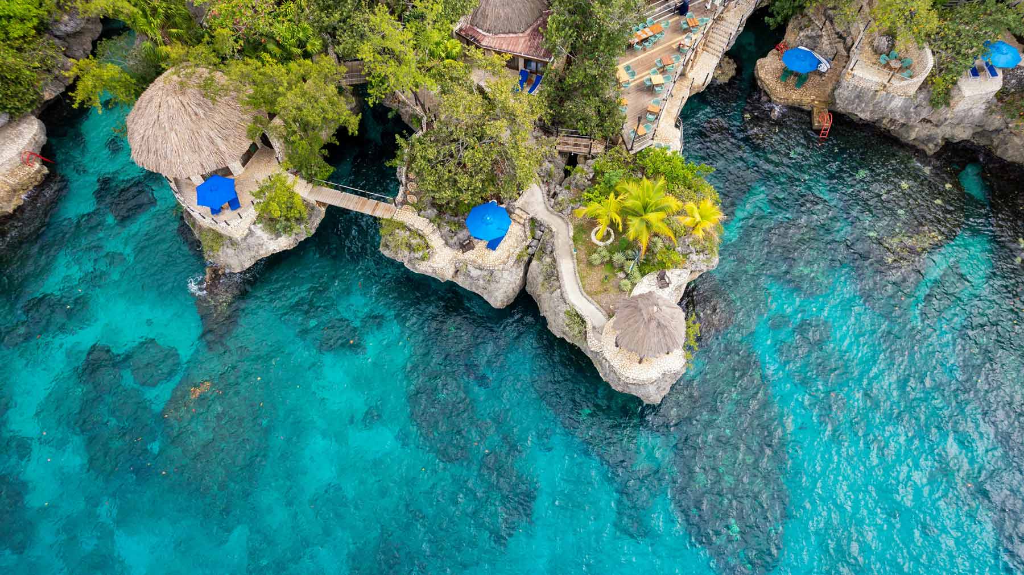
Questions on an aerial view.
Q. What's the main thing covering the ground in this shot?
water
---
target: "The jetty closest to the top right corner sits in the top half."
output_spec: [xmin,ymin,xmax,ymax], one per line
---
[806,106,829,142]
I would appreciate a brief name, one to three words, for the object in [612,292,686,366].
gazebo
